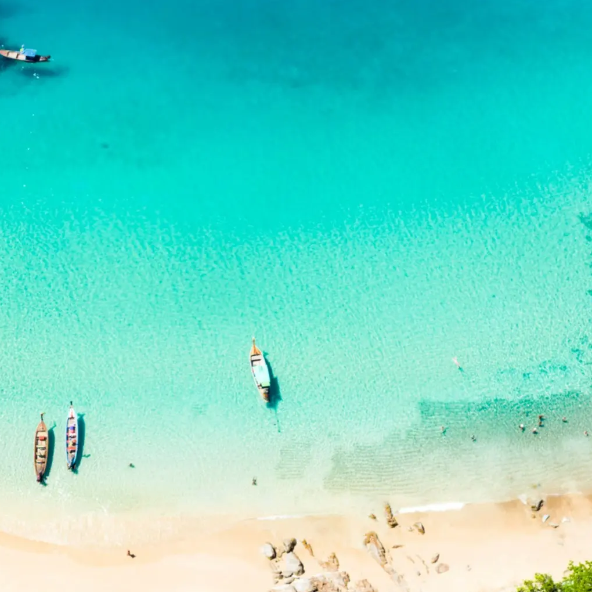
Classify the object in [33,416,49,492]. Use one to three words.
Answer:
boat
